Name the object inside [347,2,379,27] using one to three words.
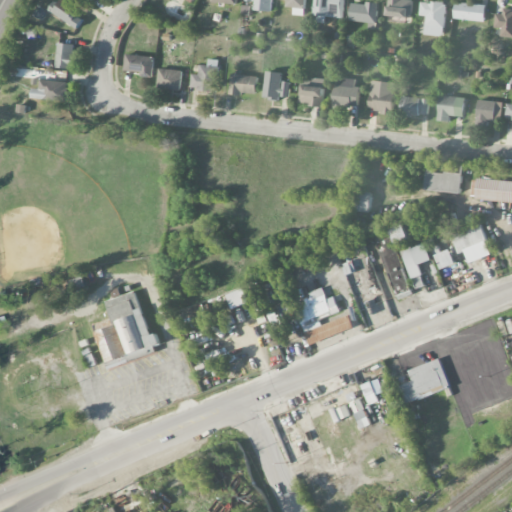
house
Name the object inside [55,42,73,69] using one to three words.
house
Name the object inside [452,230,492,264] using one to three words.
building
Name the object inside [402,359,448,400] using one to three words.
building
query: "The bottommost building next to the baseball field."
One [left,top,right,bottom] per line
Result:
[93,292,160,368]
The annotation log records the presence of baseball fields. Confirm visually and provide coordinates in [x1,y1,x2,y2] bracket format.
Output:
[0,146,130,286]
